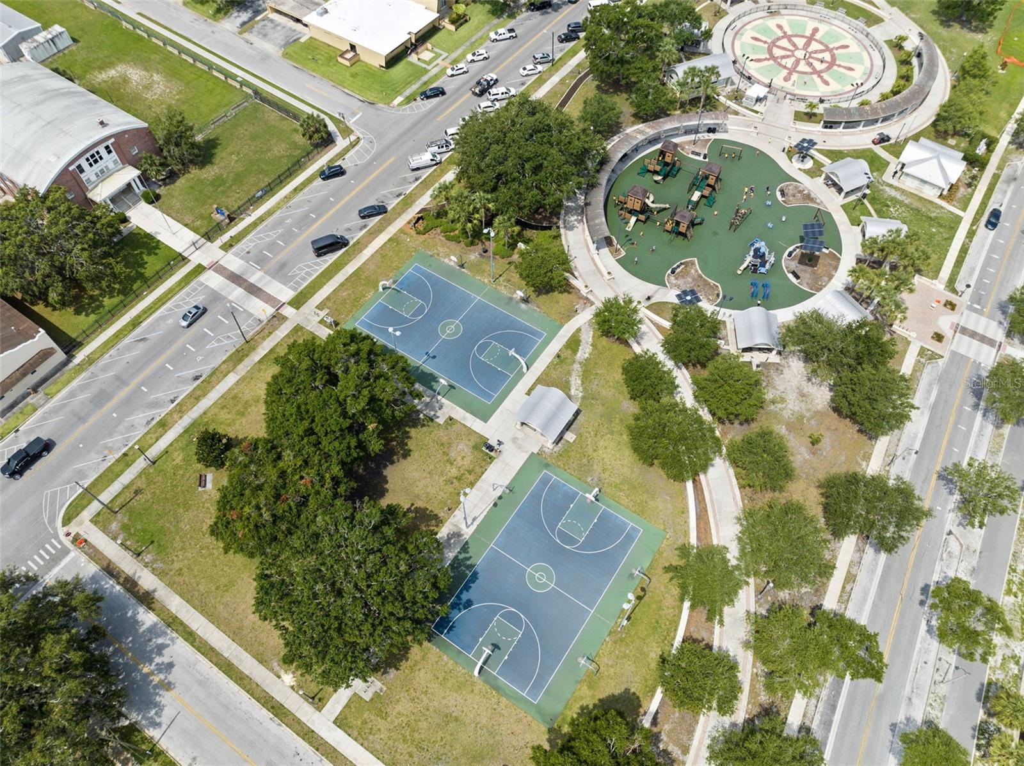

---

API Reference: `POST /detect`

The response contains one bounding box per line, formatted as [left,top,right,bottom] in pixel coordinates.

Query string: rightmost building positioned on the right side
[890,140,967,205]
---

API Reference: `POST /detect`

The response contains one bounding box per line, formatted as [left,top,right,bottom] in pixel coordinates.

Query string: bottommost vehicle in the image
[3,438,50,477]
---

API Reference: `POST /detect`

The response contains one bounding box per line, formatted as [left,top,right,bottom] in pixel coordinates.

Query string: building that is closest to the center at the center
[513,385,579,452]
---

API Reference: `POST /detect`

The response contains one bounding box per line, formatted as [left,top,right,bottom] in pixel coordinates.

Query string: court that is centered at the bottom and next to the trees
[406,453,667,728]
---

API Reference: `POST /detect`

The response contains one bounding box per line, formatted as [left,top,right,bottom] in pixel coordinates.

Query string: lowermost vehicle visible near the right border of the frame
[982,208,1002,230]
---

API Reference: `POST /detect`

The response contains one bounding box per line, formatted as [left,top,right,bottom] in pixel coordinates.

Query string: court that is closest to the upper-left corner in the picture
[341,249,564,423]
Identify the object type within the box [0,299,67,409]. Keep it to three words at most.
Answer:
building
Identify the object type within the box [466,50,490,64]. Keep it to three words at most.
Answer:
car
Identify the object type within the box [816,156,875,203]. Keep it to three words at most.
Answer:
building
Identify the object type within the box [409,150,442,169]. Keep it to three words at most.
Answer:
vehicle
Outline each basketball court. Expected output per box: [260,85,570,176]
[341,249,564,423]
[406,453,667,728]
